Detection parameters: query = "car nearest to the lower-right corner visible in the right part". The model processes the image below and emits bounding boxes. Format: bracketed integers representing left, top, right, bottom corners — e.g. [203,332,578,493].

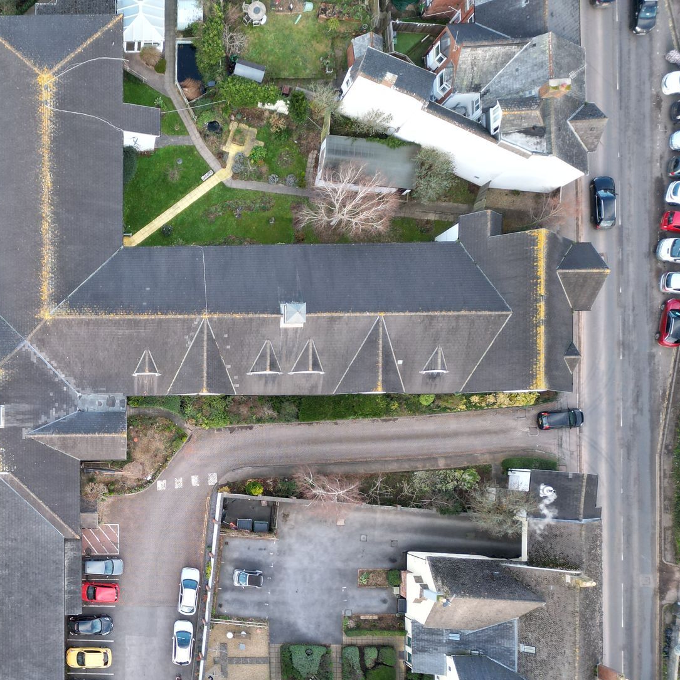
[535,407,581,429]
